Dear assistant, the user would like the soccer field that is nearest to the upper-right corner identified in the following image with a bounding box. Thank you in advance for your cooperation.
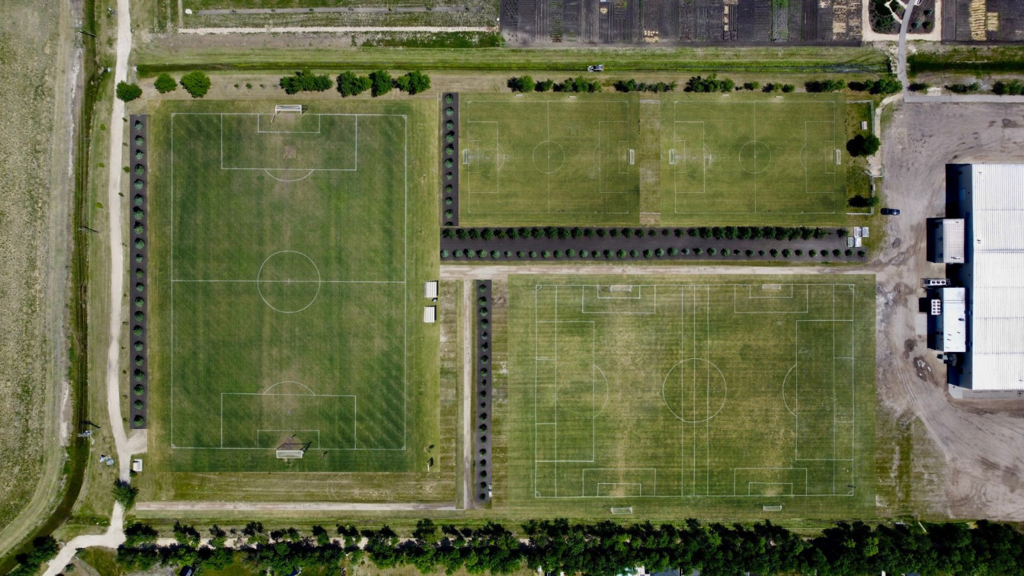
[660,93,846,226]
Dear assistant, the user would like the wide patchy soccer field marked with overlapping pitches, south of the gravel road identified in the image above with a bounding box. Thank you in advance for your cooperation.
[508,275,876,517]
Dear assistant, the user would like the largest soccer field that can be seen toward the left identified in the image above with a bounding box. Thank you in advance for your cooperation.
[148,100,439,472]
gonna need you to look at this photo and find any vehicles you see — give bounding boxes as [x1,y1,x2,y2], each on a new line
[588,64,604,72]
[488,484,495,498]
[882,207,901,215]
[934,355,957,364]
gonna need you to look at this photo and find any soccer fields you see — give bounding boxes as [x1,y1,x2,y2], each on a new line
[660,93,846,226]
[148,100,439,472]
[508,275,876,517]
[460,93,639,226]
